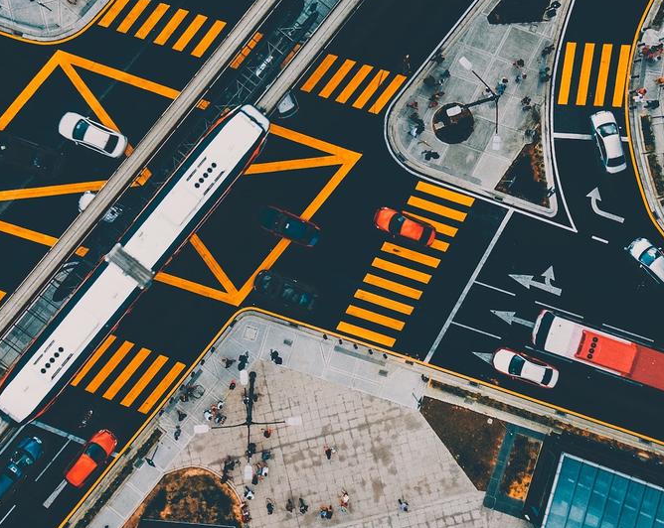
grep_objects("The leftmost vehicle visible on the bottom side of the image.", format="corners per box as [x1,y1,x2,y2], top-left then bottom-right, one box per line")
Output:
[0,433,47,502]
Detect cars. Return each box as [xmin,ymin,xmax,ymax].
[65,425,117,487]
[585,111,626,173]
[490,346,557,388]
[0,129,60,175]
[374,207,437,246]
[59,112,130,158]
[255,203,324,248]
[253,267,318,309]
[276,92,300,118]
[625,236,664,289]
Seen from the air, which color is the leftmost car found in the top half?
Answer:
black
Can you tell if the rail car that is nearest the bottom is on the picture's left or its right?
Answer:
left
